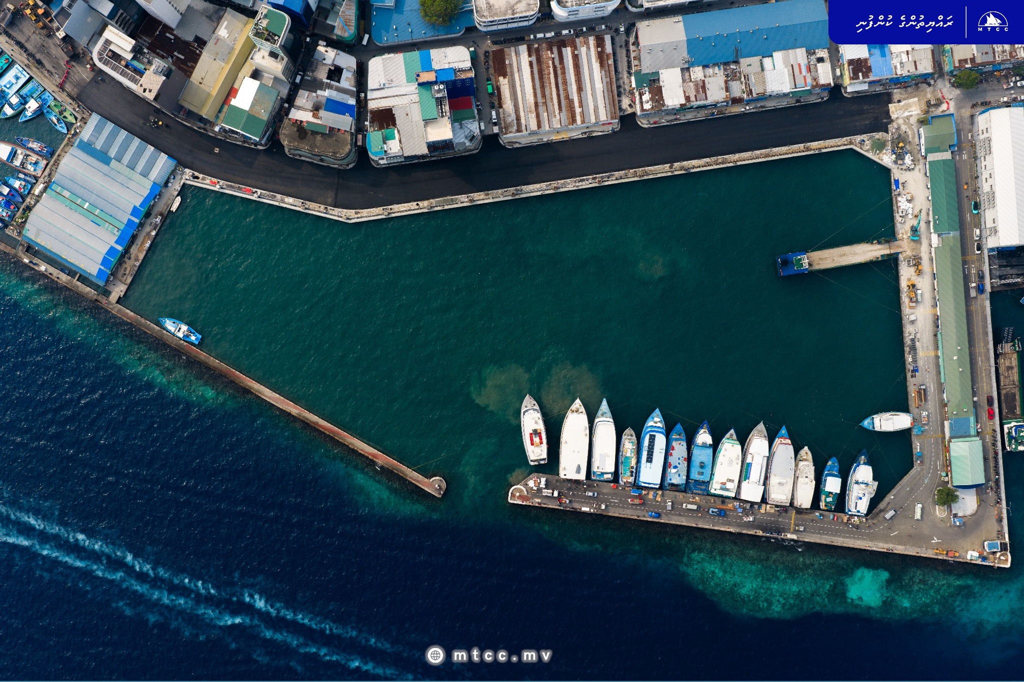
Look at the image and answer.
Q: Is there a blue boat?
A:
Yes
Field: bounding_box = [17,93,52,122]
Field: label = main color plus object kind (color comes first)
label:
blue boat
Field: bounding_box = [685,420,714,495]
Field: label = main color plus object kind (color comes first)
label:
blue boat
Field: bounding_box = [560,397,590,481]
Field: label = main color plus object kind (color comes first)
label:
white boat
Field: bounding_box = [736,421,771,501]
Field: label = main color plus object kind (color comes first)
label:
white boat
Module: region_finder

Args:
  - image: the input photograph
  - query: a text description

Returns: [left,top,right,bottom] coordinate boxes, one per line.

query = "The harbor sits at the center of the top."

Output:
[0,43,894,296]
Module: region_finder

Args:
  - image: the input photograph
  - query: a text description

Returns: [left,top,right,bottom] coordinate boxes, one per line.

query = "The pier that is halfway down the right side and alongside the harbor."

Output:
[508,114,1013,567]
